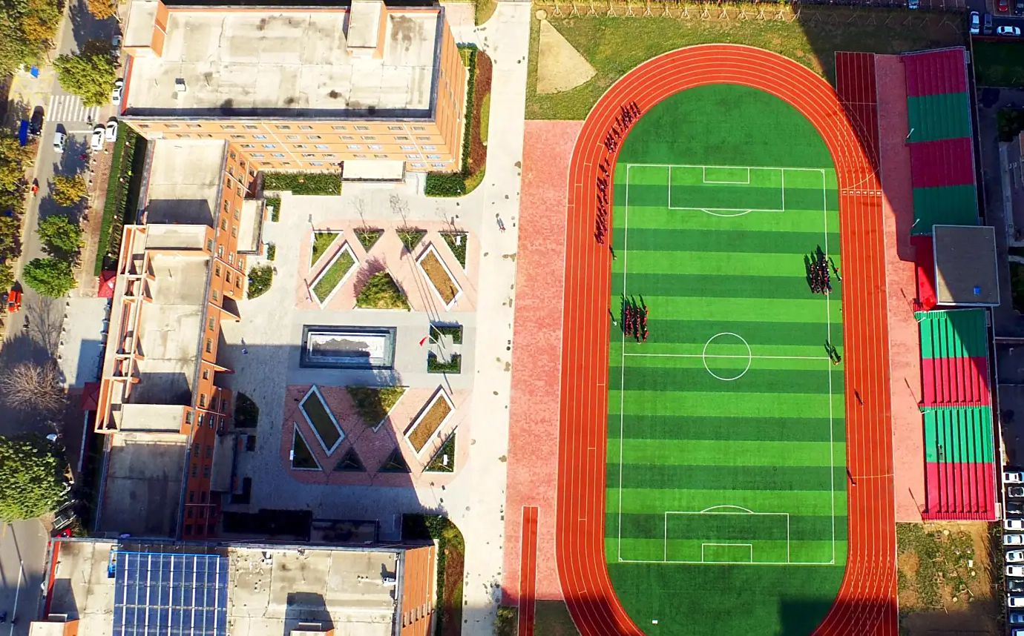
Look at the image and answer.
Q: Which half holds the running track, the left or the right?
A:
right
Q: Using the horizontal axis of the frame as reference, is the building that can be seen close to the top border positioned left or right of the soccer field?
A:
on the left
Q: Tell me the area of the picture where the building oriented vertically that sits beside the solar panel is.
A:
left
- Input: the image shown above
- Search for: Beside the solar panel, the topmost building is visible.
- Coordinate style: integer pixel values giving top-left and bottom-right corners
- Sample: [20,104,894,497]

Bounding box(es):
[92,138,279,541]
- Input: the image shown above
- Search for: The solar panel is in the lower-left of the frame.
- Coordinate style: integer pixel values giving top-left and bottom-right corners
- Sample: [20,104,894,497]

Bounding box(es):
[109,548,235,636]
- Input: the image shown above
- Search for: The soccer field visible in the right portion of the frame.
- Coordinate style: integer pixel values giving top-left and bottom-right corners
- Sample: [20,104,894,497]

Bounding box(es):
[606,85,848,636]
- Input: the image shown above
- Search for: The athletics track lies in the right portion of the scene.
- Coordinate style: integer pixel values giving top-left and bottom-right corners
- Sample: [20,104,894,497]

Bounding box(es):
[555,44,901,636]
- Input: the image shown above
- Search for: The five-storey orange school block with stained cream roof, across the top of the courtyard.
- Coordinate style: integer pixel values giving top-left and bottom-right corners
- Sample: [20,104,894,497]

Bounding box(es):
[117,0,468,196]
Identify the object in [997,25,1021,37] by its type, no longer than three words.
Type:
vehicle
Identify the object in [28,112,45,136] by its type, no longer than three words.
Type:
car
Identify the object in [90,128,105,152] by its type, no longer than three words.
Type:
car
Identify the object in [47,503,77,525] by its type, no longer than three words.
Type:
truck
